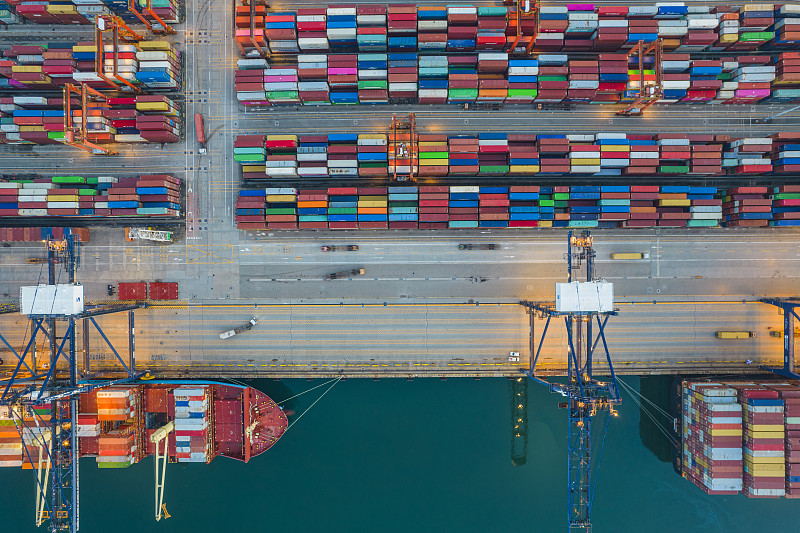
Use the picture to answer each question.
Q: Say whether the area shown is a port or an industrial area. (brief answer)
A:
port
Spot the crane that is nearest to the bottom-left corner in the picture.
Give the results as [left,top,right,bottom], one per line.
[25,421,69,527]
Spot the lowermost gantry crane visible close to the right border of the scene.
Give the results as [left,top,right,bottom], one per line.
[756,301,800,383]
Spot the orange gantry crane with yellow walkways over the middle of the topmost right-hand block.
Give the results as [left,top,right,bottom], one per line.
[505,0,541,56]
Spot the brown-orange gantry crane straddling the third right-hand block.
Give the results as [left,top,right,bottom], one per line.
[388,113,418,185]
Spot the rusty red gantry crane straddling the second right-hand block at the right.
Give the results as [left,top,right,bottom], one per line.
[617,37,661,110]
